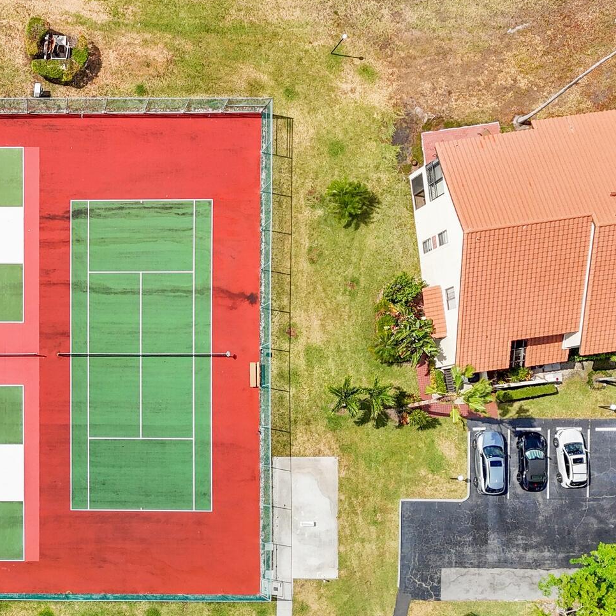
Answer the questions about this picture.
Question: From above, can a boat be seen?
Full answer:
No, I can't see a single boat in this photo.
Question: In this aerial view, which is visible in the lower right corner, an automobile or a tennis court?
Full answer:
The feature located in the lower right corner is an automobile.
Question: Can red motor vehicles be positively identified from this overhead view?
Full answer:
No, no red motor vehicle is visible in the view.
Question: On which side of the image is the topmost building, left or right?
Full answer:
The topmost building is on the left side of the image.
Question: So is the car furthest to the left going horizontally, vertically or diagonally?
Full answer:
In this picture, the car furthest to the left is oriented vertically.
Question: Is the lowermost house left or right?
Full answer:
The lowermost house is on the right side of the image.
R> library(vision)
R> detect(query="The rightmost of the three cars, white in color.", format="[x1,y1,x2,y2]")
[557,428,593,489]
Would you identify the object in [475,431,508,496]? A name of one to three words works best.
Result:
car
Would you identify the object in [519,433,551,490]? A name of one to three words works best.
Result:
car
